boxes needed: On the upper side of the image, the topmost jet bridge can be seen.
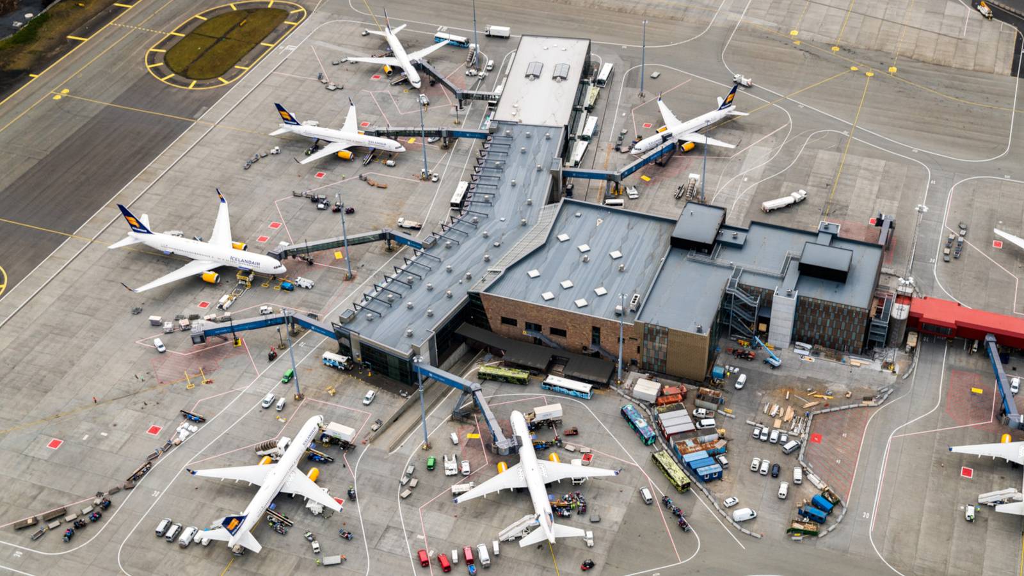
[407,59,499,113]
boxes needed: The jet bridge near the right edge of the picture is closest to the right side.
[978,332,1024,444]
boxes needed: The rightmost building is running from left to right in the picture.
[915,296,1024,354]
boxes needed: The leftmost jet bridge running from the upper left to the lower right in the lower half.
[418,362,524,462]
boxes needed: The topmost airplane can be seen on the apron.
[347,14,449,93]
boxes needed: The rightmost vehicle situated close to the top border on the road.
[978,3,990,15]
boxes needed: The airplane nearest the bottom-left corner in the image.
[191,416,343,549]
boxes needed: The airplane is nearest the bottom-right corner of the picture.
[947,432,1024,517]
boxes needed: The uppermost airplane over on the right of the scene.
[628,88,747,157]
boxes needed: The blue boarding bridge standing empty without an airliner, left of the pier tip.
[189,309,337,344]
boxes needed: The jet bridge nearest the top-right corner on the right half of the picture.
[869,219,894,255]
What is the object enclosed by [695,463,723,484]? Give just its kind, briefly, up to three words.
shed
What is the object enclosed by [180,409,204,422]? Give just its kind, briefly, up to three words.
vehicle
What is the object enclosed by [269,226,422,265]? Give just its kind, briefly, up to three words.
jet bridge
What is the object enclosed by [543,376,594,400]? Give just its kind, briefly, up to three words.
bus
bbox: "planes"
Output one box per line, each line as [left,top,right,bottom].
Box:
[111,194,280,294]
[455,410,619,544]
[191,416,343,549]
[947,432,1024,517]
[628,88,747,157]
[273,99,404,163]
[347,14,449,93]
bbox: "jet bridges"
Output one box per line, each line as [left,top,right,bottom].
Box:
[978,332,1024,444]
[407,59,499,113]
[565,136,679,194]
[418,362,524,462]
[869,219,894,255]
[364,127,487,152]
[269,226,422,265]
[189,309,337,344]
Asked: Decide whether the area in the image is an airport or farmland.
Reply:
airport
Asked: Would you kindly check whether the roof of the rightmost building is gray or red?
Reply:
red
